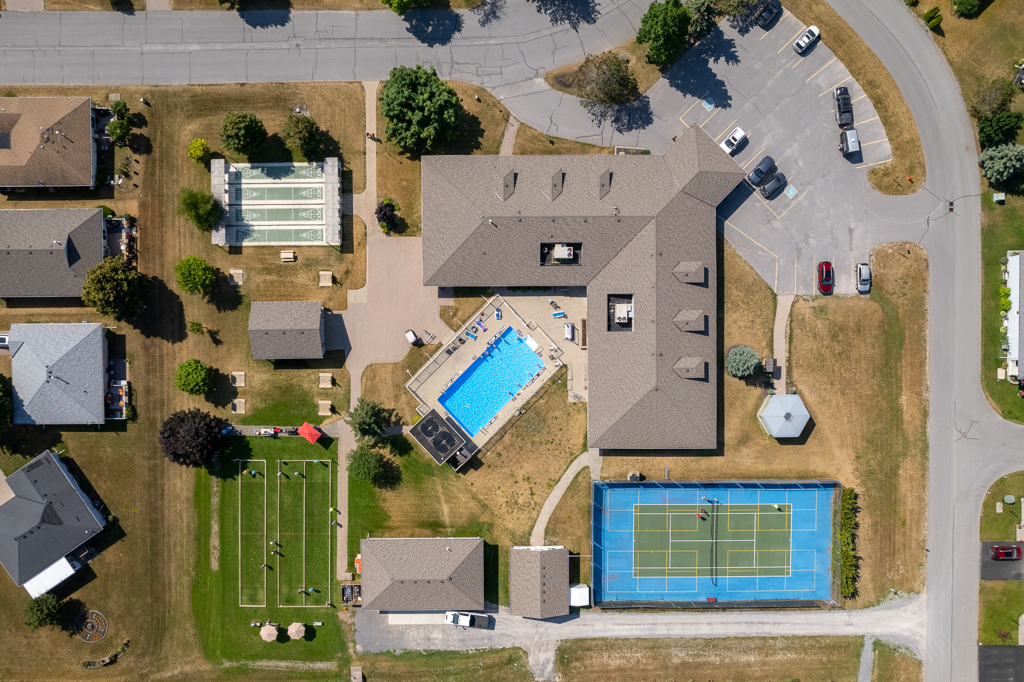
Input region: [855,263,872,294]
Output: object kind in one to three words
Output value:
car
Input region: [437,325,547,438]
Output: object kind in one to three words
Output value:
swimming pool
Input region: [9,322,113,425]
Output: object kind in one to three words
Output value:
house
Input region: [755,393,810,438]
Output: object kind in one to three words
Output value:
gazebo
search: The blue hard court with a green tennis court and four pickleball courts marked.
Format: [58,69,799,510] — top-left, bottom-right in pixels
[593,480,835,601]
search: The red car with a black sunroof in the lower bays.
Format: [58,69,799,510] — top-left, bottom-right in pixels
[816,263,834,294]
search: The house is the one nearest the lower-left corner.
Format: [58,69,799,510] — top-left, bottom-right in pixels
[0,449,107,595]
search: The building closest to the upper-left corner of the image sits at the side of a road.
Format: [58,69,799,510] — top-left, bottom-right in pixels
[0,96,101,187]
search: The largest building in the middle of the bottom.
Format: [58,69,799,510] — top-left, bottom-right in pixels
[360,534,485,611]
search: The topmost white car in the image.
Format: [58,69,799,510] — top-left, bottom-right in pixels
[792,24,820,55]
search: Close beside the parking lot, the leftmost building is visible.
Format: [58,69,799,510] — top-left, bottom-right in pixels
[421,121,747,450]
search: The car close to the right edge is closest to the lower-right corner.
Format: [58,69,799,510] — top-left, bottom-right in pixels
[988,545,1021,561]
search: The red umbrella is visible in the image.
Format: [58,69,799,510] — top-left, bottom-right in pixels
[297,421,322,444]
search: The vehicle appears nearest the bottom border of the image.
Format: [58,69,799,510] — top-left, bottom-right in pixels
[444,611,489,629]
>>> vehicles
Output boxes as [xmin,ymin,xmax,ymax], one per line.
[855,263,872,294]
[405,328,419,346]
[747,155,776,186]
[792,24,820,55]
[816,263,834,294]
[444,611,489,629]
[0,334,10,346]
[754,0,783,29]
[760,172,787,200]
[988,545,1021,561]
[832,87,853,127]
[719,127,746,154]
